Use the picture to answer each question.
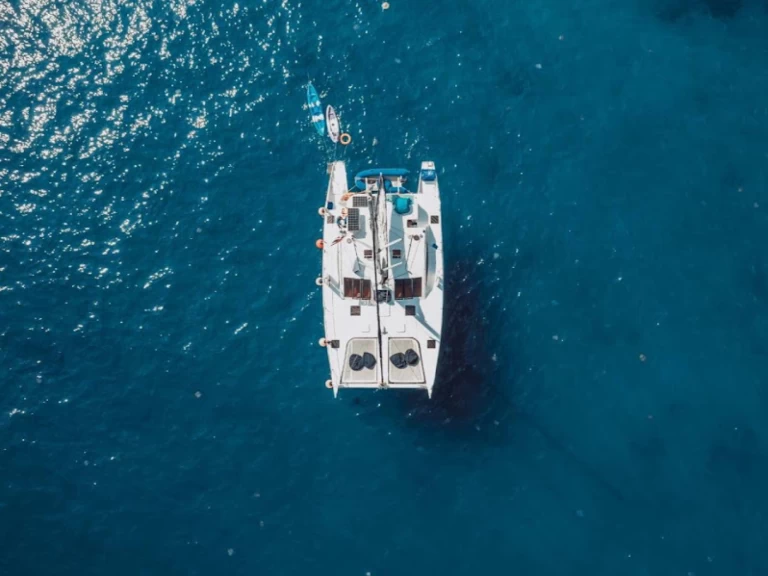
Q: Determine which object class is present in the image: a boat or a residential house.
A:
boat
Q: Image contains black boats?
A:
No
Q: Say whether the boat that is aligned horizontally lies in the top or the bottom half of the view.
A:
top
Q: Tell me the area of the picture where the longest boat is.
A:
center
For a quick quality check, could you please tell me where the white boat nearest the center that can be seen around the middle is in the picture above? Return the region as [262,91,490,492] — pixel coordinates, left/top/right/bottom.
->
[322,161,443,398]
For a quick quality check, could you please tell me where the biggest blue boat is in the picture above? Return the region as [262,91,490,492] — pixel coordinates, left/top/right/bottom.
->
[348,168,413,193]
